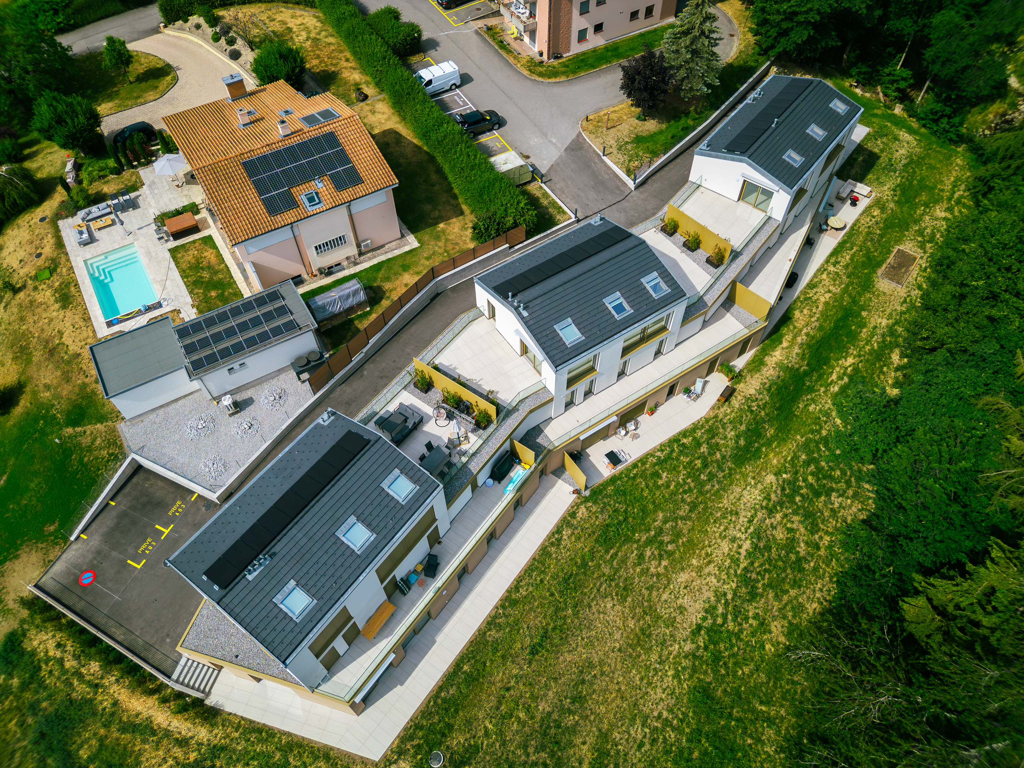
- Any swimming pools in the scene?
Yes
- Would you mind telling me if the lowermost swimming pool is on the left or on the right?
left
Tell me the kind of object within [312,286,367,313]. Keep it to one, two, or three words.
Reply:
greenhouse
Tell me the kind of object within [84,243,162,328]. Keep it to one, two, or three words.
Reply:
swimming pool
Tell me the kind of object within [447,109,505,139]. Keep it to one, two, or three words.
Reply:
car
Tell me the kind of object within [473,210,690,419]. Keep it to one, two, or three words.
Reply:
building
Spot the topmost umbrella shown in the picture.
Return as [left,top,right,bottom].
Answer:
[152,156,190,187]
